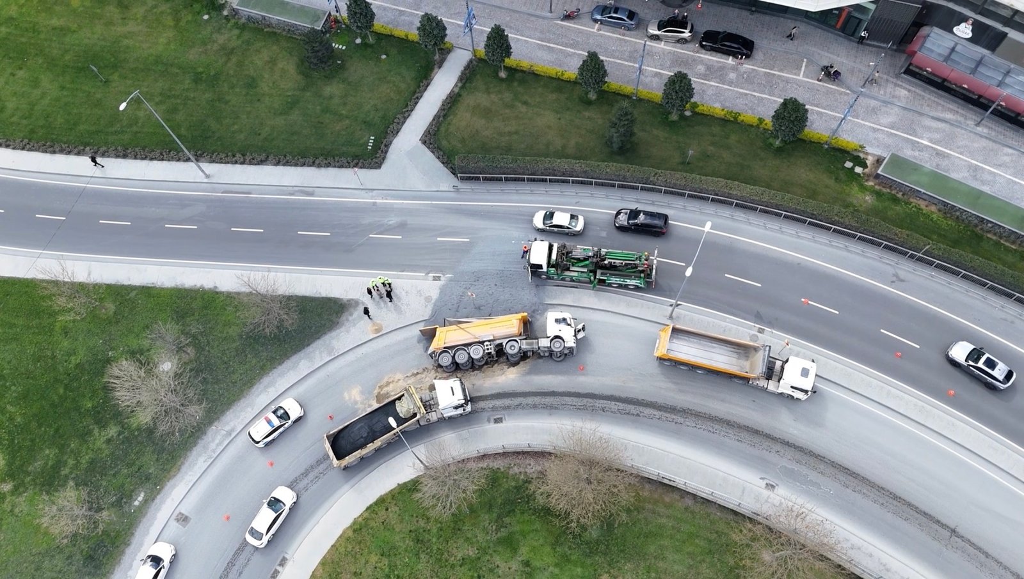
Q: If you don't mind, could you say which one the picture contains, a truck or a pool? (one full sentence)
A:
I can see a truck in this picture.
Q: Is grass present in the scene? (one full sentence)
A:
Yes, grass can be seen from above here.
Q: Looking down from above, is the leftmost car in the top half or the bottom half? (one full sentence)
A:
Seen from above, the leftmost car lies in the bottom half of the view.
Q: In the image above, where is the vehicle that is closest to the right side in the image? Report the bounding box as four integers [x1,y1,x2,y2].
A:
[943,346,1015,392]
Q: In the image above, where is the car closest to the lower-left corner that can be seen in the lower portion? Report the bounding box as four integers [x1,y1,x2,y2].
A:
[137,541,183,579]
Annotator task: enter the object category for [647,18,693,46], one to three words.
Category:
car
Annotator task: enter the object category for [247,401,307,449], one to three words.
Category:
car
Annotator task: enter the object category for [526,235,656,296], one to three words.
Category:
truck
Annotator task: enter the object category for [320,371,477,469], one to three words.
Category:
truck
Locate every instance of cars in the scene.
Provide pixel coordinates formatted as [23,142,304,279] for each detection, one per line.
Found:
[647,18,693,46]
[614,209,668,237]
[592,7,638,31]
[701,34,752,61]
[533,209,585,236]
[943,346,1015,392]
[246,485,300,550]
[247,401,307,449]
[137,541,183,579]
